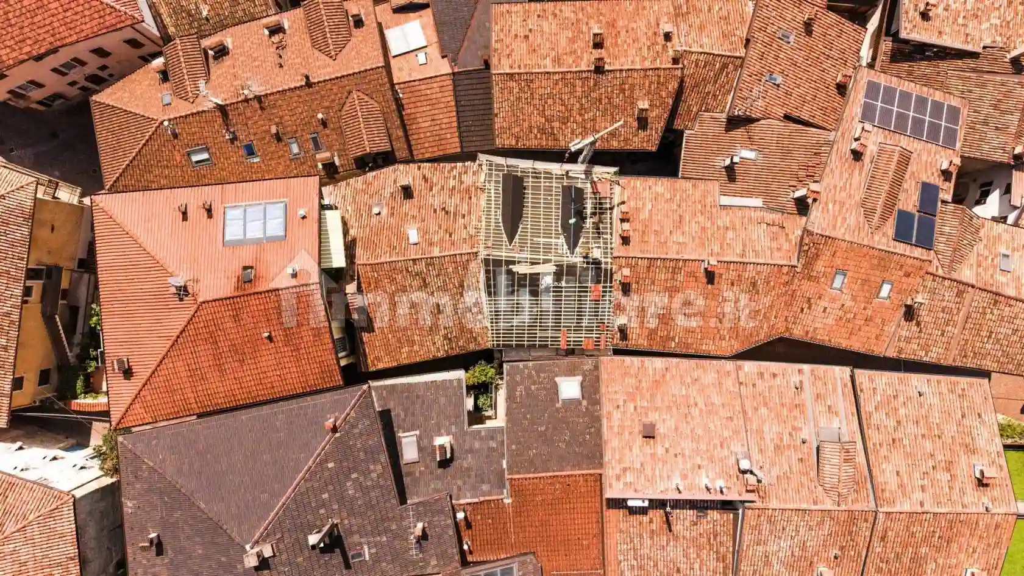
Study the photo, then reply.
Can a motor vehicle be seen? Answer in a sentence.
No, no motor vehicle is visible in the scene.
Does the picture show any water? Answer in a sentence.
No, there's no water in this view.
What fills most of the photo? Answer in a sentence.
For the most part, this view shows buildings.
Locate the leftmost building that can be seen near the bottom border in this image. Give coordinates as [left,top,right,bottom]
[0,440,124,576]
